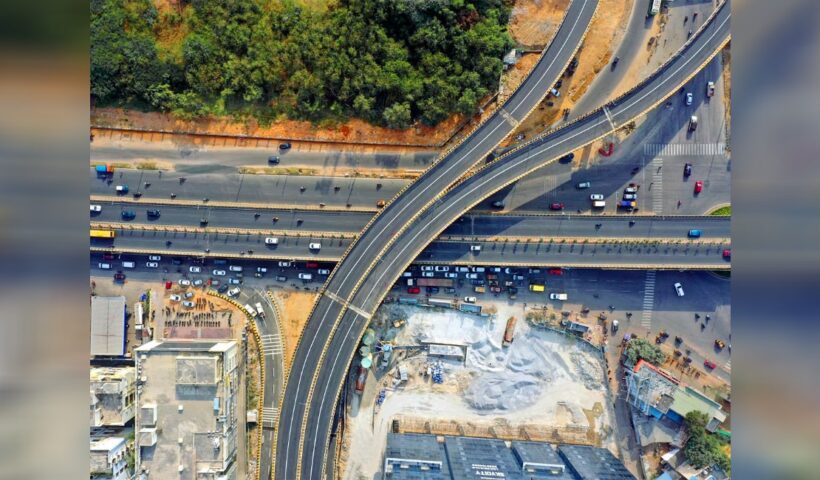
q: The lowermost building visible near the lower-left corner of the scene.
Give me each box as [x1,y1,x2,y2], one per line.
[54,432,124,480]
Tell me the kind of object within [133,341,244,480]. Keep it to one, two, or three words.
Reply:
building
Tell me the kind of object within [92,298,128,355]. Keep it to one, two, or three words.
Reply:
shed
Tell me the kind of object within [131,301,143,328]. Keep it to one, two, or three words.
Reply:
vehicle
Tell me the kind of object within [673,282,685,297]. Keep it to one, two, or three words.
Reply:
vehicle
